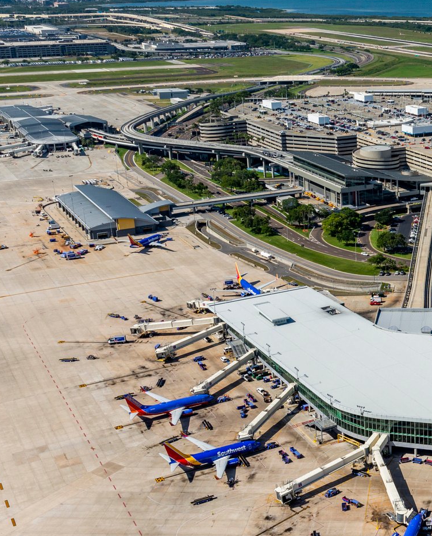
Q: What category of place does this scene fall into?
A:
airport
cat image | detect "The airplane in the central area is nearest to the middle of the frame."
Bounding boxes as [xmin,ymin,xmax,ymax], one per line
[214,266,277,298]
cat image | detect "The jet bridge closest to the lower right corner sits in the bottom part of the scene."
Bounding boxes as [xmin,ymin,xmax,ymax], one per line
[370,435,417,528]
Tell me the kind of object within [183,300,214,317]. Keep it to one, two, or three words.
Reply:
jet bridge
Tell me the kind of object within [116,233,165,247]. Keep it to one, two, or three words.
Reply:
airplane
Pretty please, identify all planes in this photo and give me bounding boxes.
[116,233,165,247]
[214,266,277,298]
[162,431,262,480]
[123,386,215,427]
[393,512,432,536]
